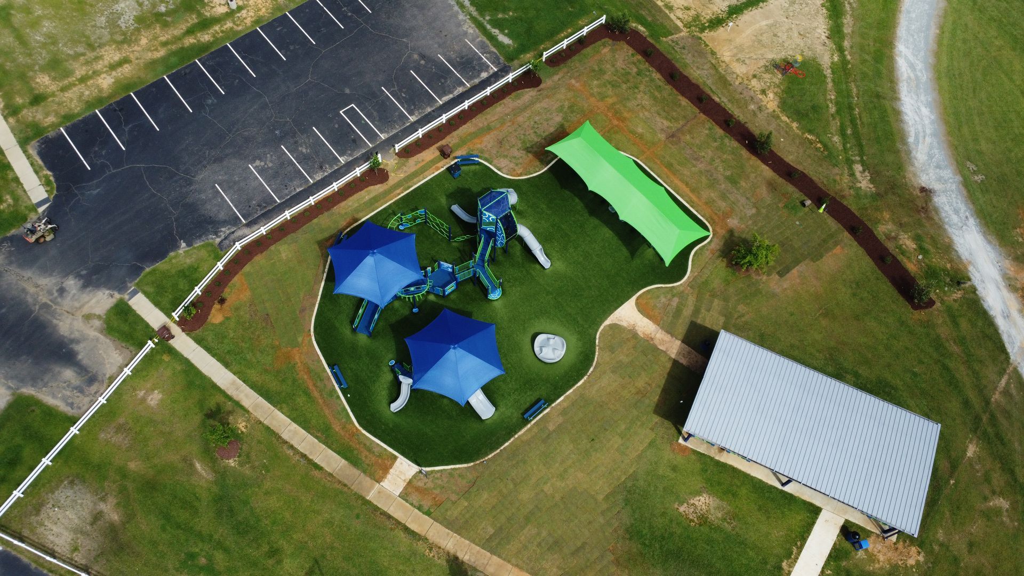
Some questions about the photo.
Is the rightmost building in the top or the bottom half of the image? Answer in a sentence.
You can find the rightmost building in the bottom half.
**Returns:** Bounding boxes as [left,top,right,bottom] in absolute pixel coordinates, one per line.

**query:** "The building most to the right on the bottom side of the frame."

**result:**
[683,329,943,543]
